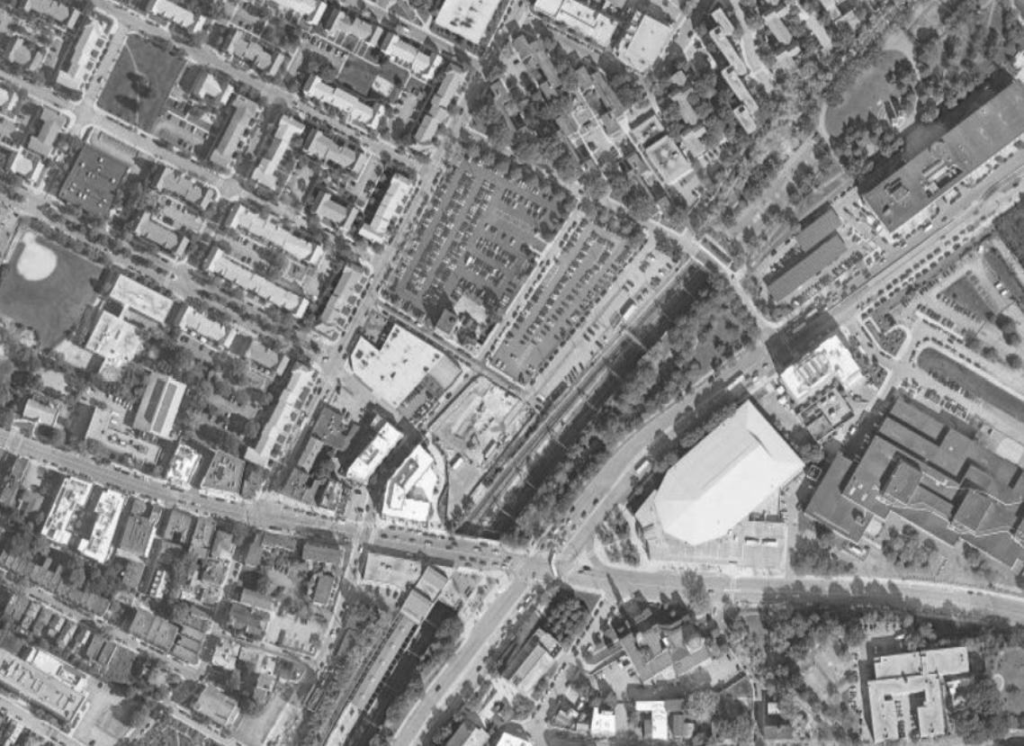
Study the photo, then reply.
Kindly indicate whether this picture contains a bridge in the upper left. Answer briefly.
No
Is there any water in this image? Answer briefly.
No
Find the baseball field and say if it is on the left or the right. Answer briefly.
left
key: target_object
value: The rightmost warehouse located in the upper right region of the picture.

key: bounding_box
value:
[863,79,1024,232]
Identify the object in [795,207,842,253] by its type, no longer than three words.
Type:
shed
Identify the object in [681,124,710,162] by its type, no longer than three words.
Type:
house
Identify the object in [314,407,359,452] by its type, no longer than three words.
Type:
building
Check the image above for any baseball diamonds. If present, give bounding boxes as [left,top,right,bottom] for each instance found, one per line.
[0,220,106,349]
